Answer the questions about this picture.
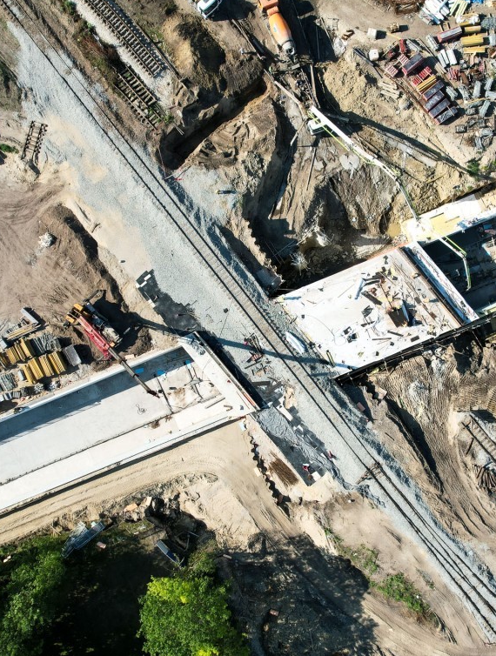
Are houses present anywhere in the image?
No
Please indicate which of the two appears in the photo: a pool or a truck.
truck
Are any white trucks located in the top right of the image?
Yes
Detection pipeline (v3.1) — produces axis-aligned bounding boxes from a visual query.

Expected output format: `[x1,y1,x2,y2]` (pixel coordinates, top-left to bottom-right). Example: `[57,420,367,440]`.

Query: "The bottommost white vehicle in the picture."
[275,62,472,293]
